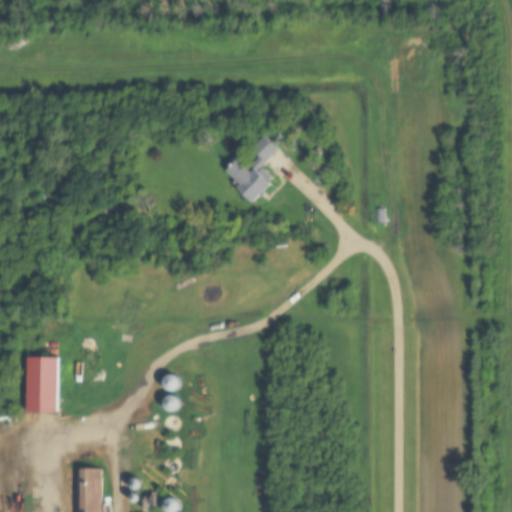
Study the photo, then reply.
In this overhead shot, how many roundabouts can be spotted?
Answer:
0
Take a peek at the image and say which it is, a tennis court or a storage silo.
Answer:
storage silo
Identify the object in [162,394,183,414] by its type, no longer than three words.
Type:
silo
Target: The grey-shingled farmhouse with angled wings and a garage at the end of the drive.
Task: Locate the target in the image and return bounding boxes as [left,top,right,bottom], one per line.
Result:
[224,138,278,203]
